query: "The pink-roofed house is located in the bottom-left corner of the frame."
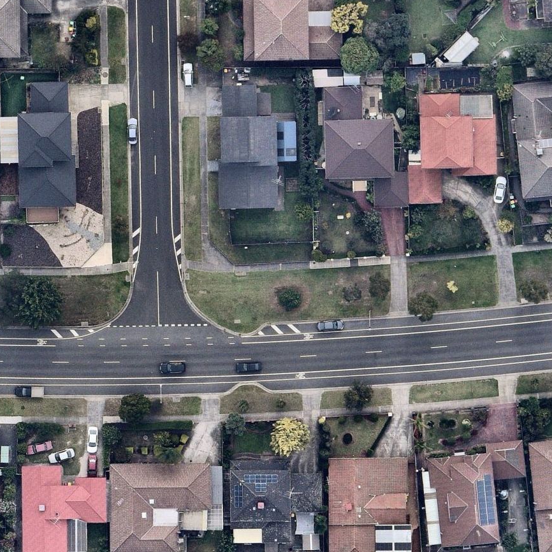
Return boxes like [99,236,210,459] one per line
[20,466,106,552]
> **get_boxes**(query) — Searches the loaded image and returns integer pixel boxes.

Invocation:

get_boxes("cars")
[86,454,98,478]
[26,441,53,455]
[86,427,98,453]
[493,177,507,203]
[159,362,185,374]
[127,118,139,145]
[48,448,75,464]
[182,63,192,87]
[235,362,262,373]
[317,319,343,331]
